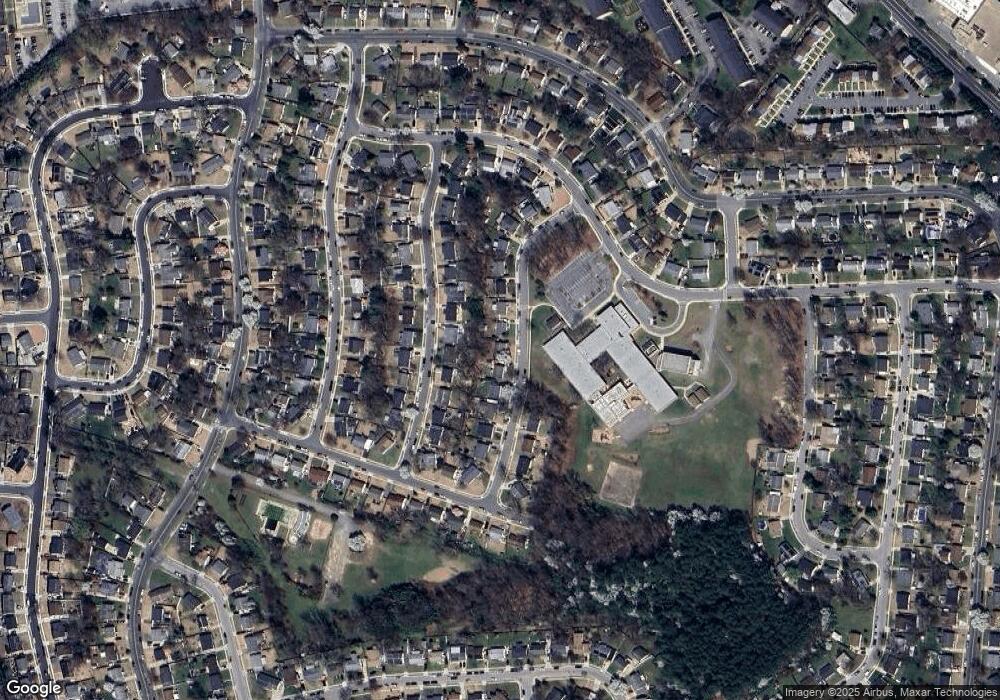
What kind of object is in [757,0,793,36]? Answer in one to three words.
building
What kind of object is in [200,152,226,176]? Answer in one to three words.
house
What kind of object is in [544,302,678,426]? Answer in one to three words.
building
